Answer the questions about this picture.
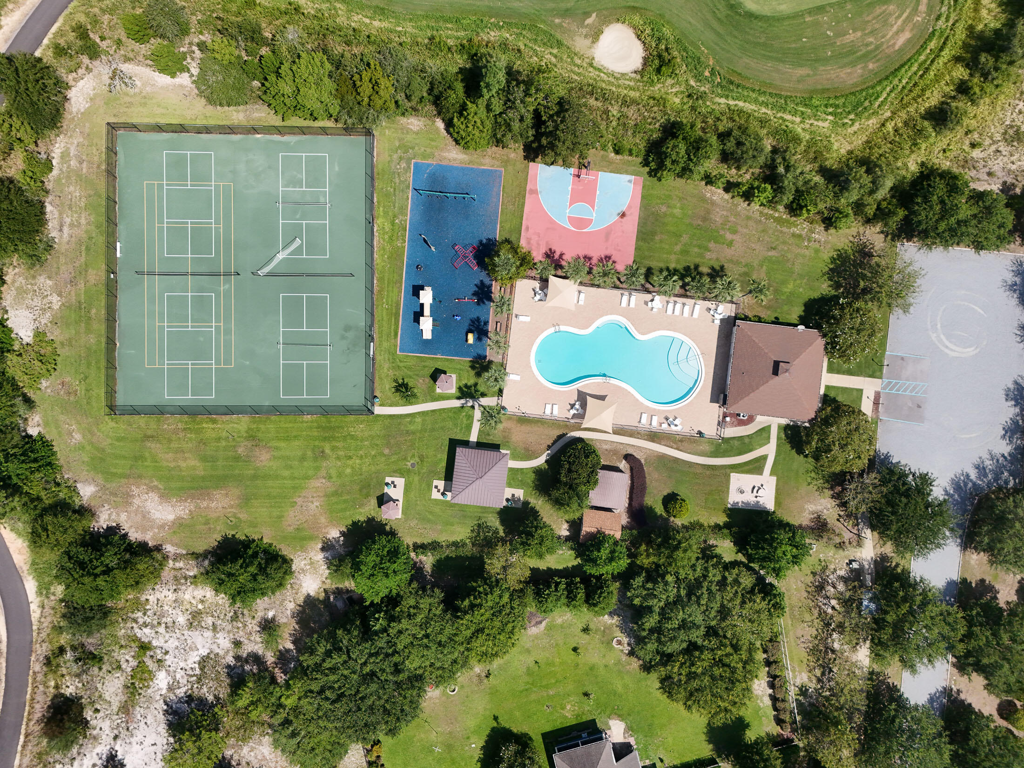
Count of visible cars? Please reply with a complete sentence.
Not a single car can be seen.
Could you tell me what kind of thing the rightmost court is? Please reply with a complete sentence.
What you see as the rightmost court is a basketball court.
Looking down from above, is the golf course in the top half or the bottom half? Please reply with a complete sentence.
You can find the golf course in the top half.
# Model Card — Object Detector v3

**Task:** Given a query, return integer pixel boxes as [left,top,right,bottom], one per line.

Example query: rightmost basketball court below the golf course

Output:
[518,162,643,272]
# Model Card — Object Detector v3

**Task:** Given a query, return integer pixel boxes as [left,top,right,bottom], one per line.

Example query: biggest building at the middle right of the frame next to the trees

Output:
[723,320,826,421]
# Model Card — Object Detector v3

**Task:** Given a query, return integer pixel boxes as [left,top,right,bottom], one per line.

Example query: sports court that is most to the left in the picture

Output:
[117,132,375,414]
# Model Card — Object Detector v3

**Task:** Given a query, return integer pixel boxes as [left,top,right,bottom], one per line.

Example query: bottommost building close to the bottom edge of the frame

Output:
[551,721,645,768]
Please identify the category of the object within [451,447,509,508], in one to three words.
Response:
building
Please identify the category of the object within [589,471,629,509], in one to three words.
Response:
shed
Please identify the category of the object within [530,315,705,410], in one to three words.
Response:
swimming pool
